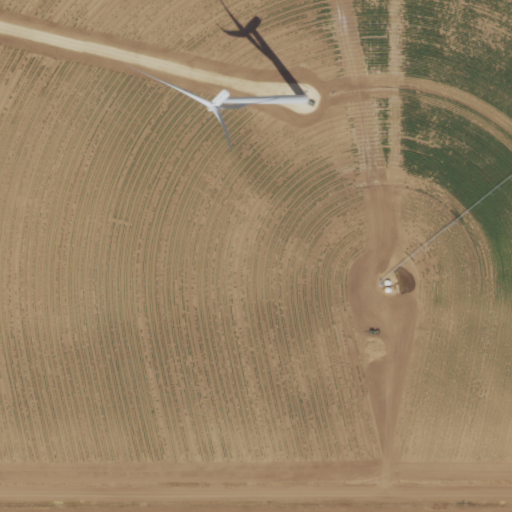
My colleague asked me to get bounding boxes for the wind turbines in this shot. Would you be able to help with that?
[129,67,314,150]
